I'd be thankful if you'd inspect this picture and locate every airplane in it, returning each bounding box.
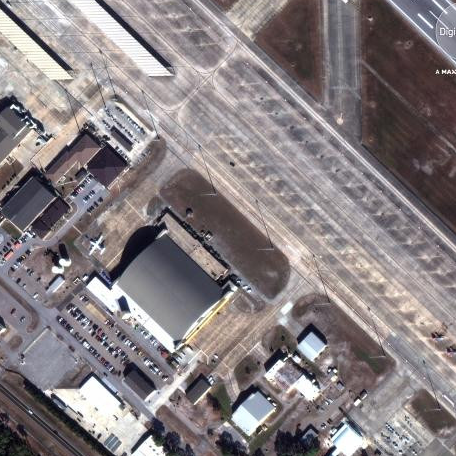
[430,333,445,345]
[88,234,104,256]
[445,347,456,359]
